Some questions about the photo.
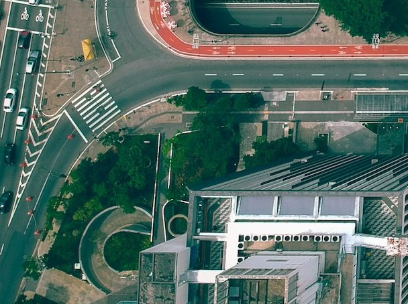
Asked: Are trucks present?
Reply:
No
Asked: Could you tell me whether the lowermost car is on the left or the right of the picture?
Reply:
left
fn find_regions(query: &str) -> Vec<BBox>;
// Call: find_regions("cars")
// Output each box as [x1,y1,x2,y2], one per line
[13,104,35,134]
[1,82,24,117]
[15,24,37,53]
[24,47,46,78]
[26,0,44,11]
[0,185,20,219]
[1,138,21,168]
